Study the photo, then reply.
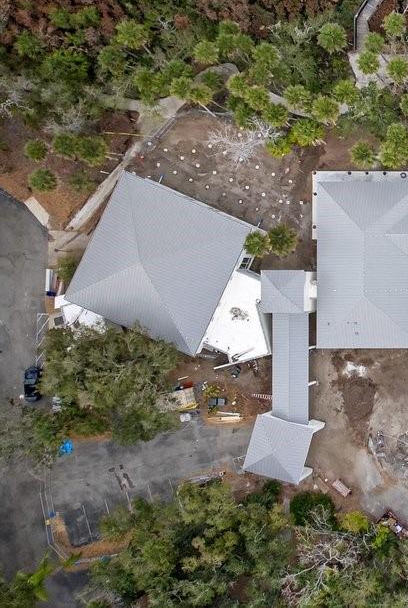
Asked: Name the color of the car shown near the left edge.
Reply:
black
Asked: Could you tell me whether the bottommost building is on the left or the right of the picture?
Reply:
right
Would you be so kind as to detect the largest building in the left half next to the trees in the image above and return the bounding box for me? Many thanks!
[64,171,260,356]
